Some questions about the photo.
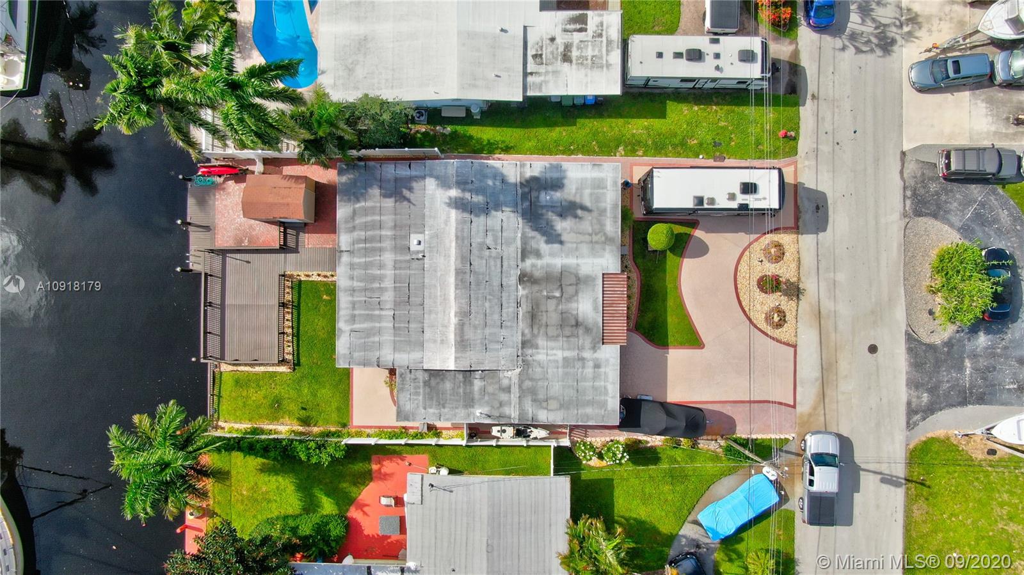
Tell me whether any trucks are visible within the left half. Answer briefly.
No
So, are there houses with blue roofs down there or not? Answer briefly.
No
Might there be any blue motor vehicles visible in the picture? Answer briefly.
Yes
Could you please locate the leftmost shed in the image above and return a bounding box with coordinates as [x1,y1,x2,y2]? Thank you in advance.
[242,176,316,221]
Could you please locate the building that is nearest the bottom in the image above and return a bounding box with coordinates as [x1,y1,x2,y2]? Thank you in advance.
[404,470,571,575]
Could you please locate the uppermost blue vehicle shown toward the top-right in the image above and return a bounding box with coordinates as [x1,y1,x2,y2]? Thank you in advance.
[800,0,836,30]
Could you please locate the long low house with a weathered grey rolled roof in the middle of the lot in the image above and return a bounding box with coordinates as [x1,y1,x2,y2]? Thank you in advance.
[336,159,627,425]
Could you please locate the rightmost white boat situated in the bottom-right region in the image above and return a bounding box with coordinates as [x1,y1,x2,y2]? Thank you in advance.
[987,410,1024,443]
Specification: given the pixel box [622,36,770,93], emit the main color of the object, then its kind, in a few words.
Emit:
white vehicle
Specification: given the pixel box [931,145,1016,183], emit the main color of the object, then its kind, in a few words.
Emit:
gray car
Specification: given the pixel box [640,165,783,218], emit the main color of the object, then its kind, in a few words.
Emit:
white camper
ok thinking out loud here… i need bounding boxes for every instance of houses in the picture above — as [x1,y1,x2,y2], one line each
[336,159,627,425]
[404,470,571,575]
[317,0,622,104]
